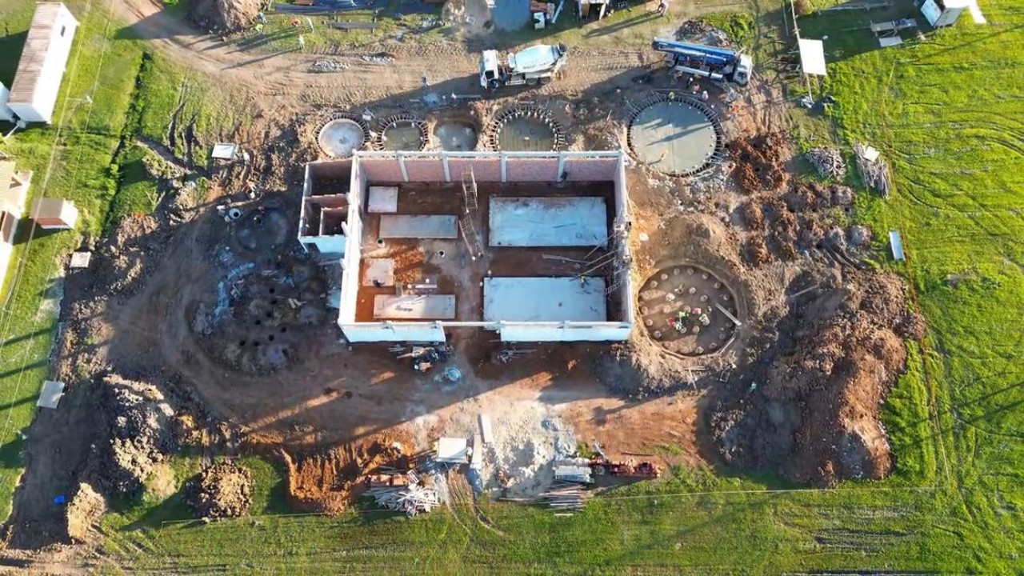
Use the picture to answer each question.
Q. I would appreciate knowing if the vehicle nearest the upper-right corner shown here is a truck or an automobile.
truck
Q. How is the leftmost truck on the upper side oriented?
horizontally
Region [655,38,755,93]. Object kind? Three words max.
truck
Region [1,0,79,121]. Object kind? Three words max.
house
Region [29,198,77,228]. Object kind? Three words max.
shed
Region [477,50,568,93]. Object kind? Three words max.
truck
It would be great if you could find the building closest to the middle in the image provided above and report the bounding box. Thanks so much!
[299,152,631,340]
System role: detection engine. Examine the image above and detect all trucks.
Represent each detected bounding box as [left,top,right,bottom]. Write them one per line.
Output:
[477,50,568,93]
[655,38,755,93]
